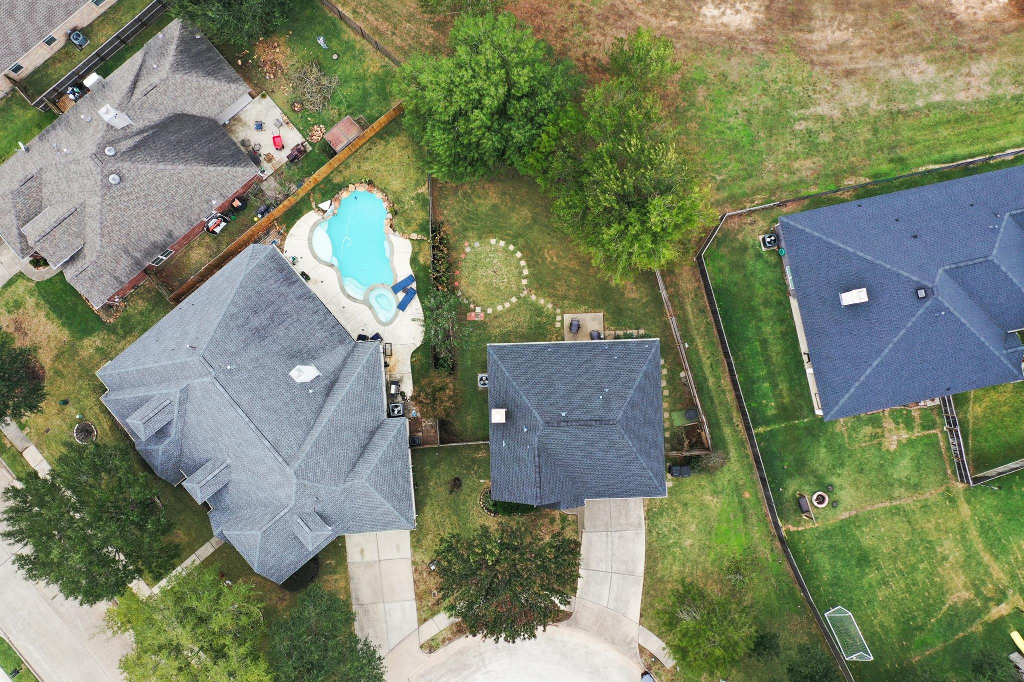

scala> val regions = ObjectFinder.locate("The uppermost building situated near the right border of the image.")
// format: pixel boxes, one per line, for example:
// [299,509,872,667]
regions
[776,166,1024,423]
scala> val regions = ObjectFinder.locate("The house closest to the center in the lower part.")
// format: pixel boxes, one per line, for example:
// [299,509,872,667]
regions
[486,339,668,509]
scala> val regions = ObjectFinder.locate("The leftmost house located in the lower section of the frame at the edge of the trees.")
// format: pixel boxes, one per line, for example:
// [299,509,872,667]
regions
[94,243,417,585]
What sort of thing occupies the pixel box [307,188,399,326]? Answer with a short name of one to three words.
swimming pool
